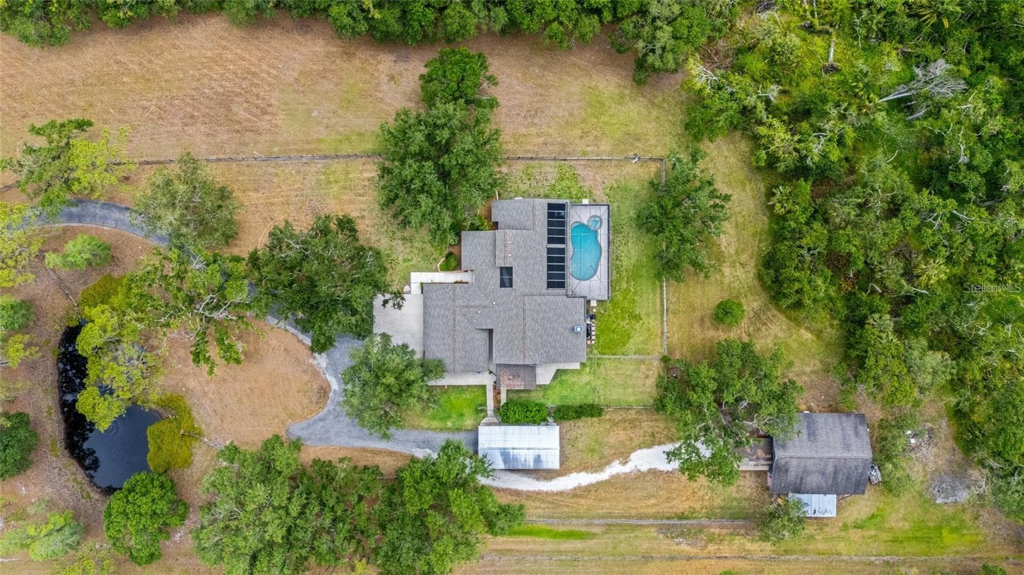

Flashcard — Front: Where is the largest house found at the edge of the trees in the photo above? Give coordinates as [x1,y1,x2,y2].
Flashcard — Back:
[423,198,587,389]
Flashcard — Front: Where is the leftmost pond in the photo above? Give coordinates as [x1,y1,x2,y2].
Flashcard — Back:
[60,319,172,490]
